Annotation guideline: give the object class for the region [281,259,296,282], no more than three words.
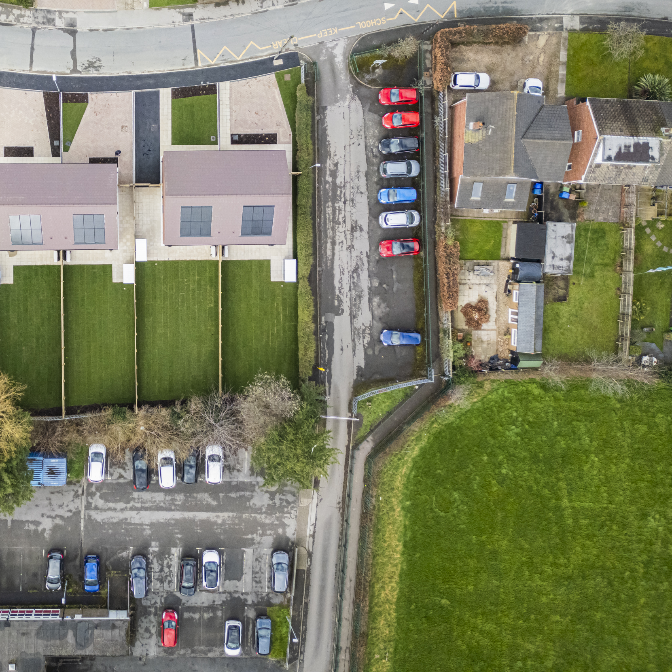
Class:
shed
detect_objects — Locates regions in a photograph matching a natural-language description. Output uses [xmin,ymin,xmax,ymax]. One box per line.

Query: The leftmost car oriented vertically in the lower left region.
[44,550,63,590]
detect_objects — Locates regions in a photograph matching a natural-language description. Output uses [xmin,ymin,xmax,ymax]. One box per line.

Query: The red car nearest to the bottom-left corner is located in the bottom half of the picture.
[160,607,178,648]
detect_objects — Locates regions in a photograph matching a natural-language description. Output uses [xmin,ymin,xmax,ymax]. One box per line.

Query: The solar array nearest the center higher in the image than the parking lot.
[242,206,273,237]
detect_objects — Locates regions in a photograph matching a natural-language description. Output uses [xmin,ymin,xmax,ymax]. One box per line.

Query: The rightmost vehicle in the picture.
[522,79,544,96]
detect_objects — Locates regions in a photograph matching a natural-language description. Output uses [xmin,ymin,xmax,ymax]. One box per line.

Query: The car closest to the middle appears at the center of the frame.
[379,328,420,348]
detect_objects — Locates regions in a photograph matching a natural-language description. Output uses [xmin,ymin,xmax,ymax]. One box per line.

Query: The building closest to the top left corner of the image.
[0,163,118,251]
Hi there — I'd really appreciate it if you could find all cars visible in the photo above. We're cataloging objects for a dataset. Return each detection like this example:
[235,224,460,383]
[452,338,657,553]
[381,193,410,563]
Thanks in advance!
[378,135,419,155]
[160,607,178,648]
[44,550,63,590]
[379,328,420,348]
[131,448,149,490]
[377,86,418,106]
[378,238,420,258]
[270,550,290,593]
[380,111,419,130]
[82,554,102,592]
[156,447,176,488]
[182,447,200,484]
[204,444,223,484]
[377,186,416,205]
[224,618,243,656]
[86,442,106,483]
[378,159,420,178]
[378,209,420,229]
[522,79,544,96]
[254,614,274,656]
[202,548,220,589]
[177,555,197,595]
[453,71,490,90]
[128,554,149,598]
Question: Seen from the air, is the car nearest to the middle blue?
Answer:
Yes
